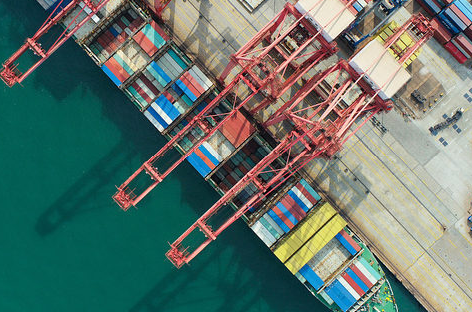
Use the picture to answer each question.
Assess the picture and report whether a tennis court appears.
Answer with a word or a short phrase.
No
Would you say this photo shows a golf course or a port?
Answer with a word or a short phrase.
port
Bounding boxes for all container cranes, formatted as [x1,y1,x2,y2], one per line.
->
[162,11,443,275]
[338,0,410,50]
[0,0,111,92]
[108,0,362,219]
